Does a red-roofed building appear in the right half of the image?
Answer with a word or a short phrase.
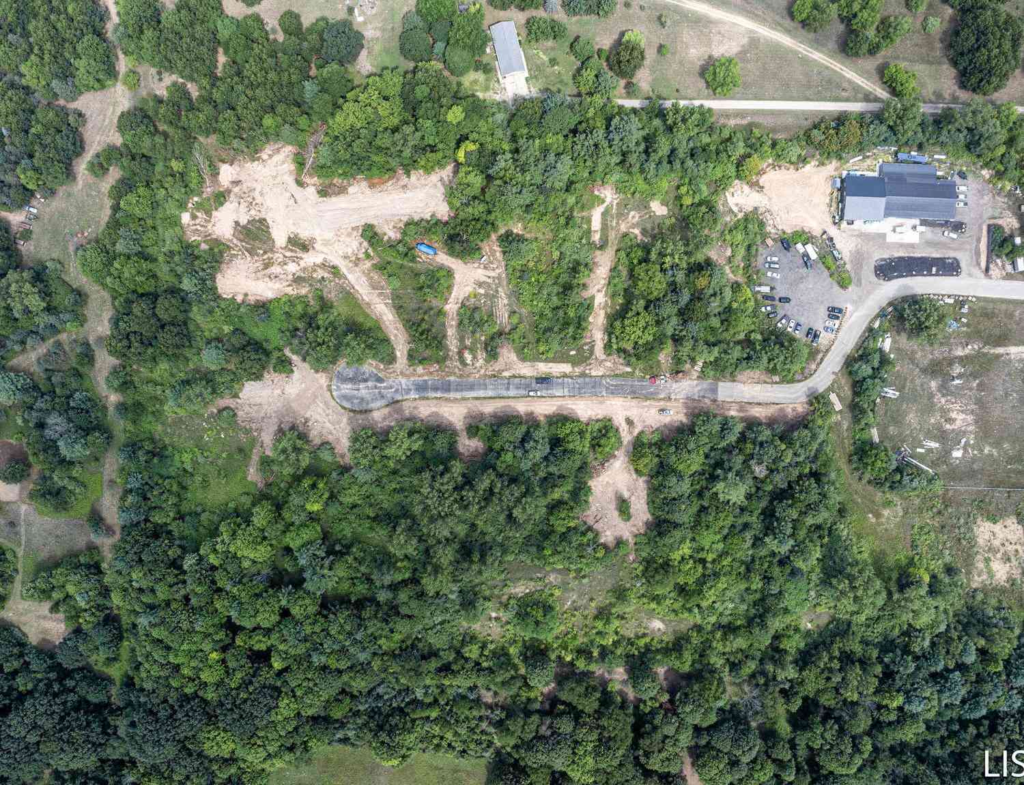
No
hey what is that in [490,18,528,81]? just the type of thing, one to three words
barn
